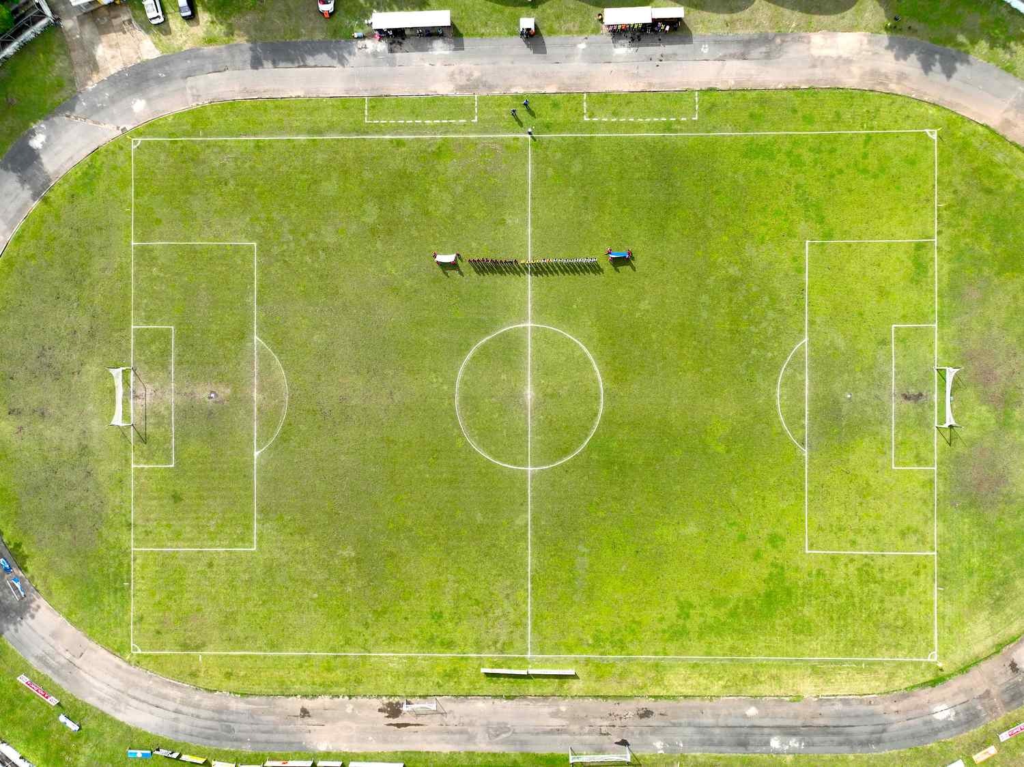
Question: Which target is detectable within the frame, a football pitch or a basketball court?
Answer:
football pitch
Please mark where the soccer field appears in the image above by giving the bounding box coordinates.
[123,94,945,667]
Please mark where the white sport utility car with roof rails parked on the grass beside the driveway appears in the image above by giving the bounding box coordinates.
[138,0,163,27]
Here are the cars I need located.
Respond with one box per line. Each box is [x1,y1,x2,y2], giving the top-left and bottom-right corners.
[138,0,163,27]
[176,0,194,20]
[317,0,334,13]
